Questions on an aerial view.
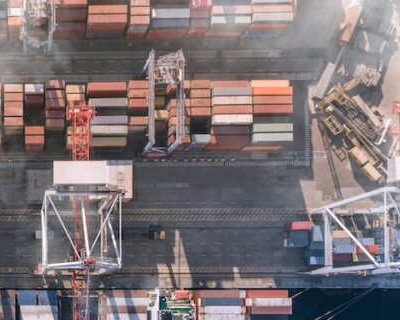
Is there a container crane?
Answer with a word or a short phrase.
Yes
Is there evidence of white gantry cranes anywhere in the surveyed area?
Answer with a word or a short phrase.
Yes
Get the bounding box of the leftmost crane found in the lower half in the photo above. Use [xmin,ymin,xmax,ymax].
[27,101,130,320]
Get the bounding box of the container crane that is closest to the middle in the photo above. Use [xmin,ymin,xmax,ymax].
[136,49,185,156]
